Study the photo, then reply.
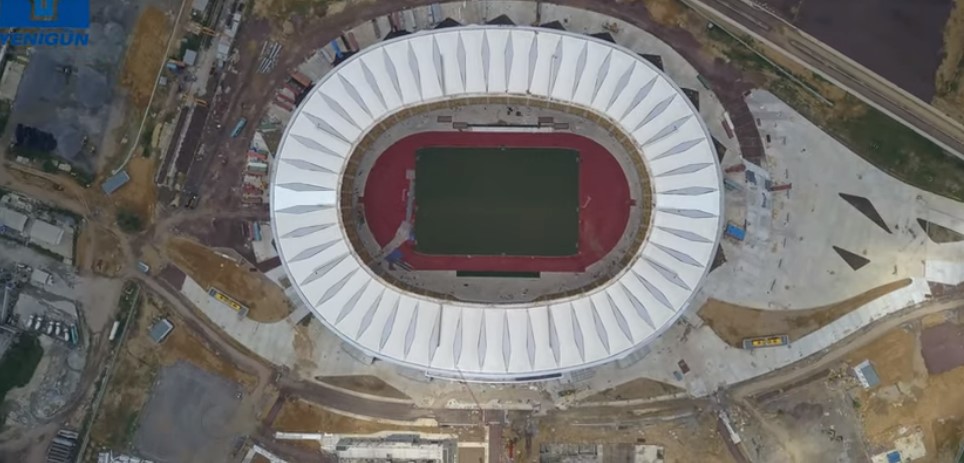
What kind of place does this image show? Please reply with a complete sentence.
The picture captures a sports ground.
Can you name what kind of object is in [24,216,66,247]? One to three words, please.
house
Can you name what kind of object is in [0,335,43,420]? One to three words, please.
pond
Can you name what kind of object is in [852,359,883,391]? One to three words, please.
shed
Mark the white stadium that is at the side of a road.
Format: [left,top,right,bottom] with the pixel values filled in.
[271,26,723,387]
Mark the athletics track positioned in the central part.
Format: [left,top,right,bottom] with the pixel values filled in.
[360,131,635,272]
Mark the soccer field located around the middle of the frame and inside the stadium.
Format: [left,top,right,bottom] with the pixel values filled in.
[414,148,580,256]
